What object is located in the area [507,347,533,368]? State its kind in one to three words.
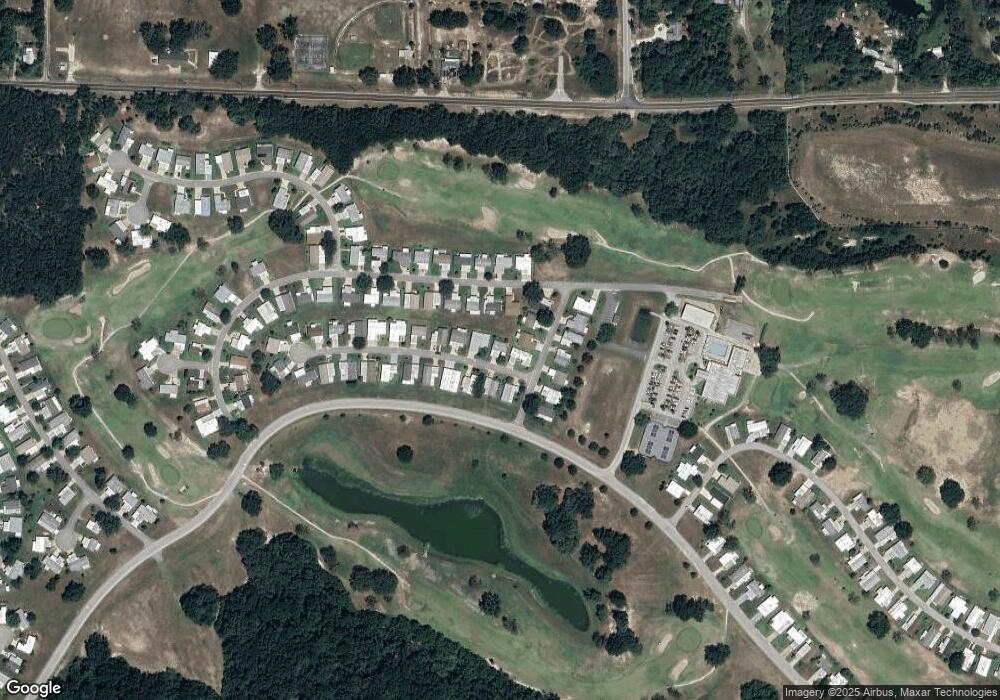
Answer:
house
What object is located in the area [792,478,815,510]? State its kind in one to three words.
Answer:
house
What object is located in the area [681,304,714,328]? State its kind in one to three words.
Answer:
building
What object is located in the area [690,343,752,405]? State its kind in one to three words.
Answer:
building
